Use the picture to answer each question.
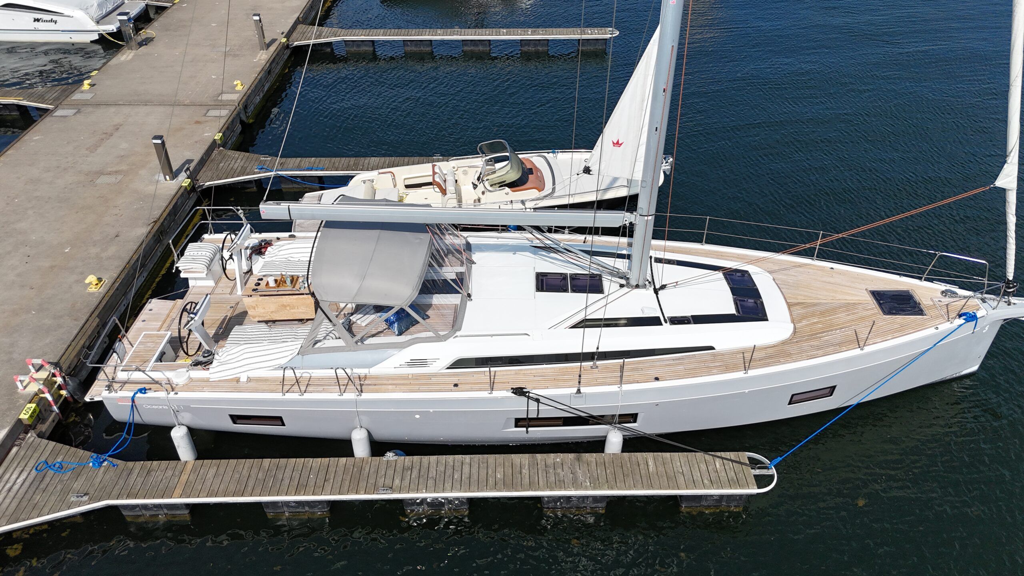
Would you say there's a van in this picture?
No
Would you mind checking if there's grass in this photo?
No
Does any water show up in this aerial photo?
Yes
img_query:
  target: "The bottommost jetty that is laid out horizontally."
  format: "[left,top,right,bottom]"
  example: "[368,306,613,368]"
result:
[0,437,785,529]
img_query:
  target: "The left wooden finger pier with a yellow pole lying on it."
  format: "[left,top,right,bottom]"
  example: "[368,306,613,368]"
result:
[0,84,82,114]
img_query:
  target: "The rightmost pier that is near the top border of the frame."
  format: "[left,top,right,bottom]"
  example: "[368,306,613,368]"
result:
[292,23,629,49]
